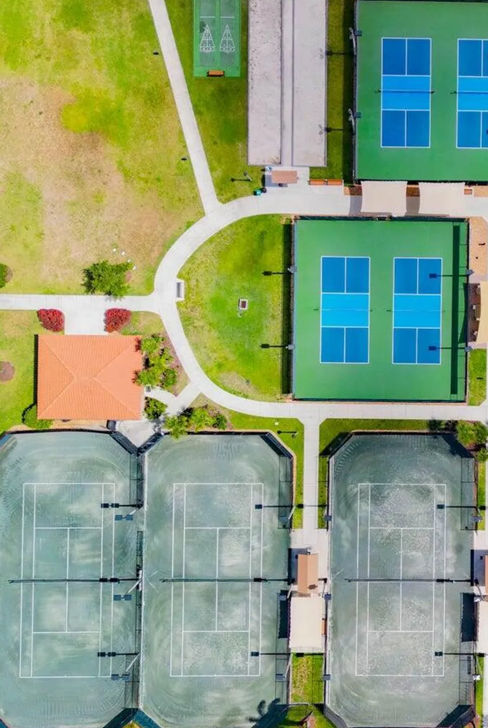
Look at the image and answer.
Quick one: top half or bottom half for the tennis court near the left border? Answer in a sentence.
It is in the bottom half that the tennis court near the left border appears.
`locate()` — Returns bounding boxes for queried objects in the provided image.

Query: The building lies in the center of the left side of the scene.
[37,334,146,420]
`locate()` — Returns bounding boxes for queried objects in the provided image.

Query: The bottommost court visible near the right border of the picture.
[325,435,477,728]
